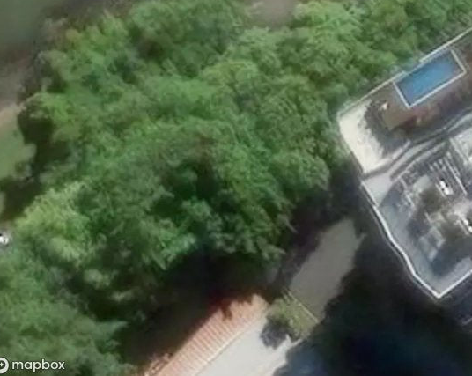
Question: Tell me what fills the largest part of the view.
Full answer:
What you mostly see from above here is trees.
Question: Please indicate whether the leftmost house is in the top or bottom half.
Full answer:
You can find the leftmost house in the bottom half.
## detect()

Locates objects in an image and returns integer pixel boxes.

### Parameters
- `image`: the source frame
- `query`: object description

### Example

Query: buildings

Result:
[334,28,472,318]
[152,290,311,376]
